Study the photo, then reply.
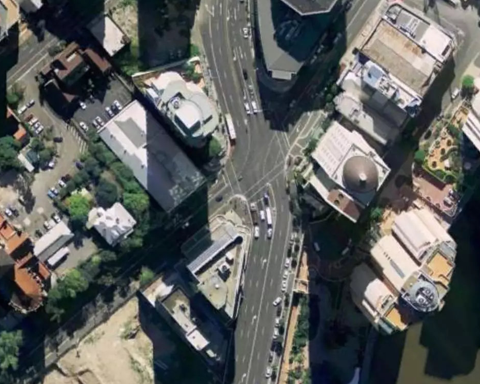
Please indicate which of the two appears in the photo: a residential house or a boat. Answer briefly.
residential house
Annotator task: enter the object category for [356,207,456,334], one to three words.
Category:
building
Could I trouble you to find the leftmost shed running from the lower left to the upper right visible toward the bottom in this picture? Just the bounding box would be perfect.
[34,221,75,262]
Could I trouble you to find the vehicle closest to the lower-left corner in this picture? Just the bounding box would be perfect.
[48,249,69,265]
